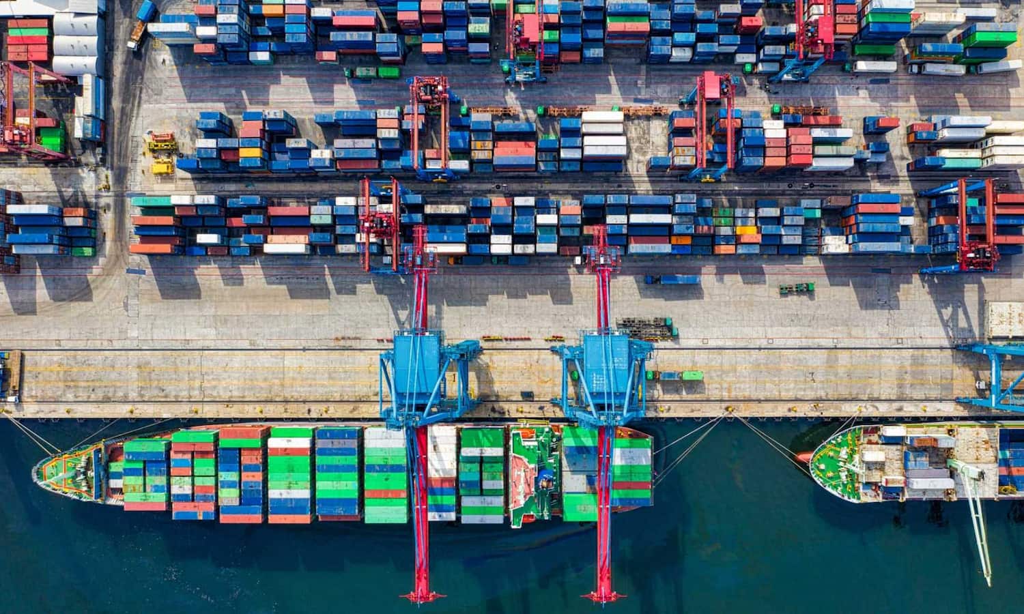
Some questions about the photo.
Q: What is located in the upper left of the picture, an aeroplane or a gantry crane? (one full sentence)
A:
It is a gantry crane that can be seen in the upper left of the picture.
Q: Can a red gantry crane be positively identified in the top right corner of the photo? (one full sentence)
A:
Yes, I can see a red gantry crane in the top right corner of the photo.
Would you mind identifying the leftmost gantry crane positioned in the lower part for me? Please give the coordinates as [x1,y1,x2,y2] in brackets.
[378,225,490,604]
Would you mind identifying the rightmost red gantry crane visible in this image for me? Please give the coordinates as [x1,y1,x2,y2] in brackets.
[917,178,997,277]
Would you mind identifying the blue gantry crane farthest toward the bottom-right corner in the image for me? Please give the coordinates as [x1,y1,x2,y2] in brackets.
[957,348,1024,414]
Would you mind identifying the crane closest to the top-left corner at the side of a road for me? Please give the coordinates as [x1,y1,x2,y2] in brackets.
[0,61,81,159]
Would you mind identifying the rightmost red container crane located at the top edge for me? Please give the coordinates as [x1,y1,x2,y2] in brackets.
[768,0,834,80]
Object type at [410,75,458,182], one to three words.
container crane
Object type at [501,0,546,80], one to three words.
container crane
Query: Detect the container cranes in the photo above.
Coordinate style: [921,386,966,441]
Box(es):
[501,0,546,80]
[544,225,650,604]
[957,348,1024,414]
[678,66,737,182]
[768,0,834,80]
[378,225,490,604]
[410,75,458,182]
[0,61,81,159]
[362,178,414,277]
[917,178,997,277]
